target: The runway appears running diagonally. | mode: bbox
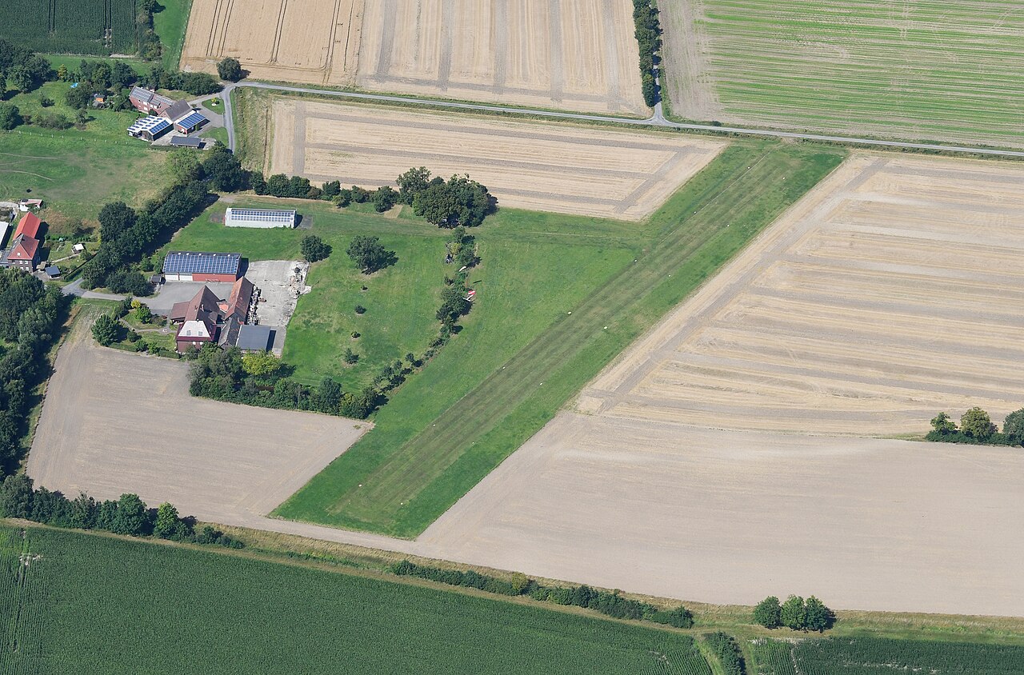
[271,142,848,539]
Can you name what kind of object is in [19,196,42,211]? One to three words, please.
building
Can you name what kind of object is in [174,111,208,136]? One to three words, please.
barn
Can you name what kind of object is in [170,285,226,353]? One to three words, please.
house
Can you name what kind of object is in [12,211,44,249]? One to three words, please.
barn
